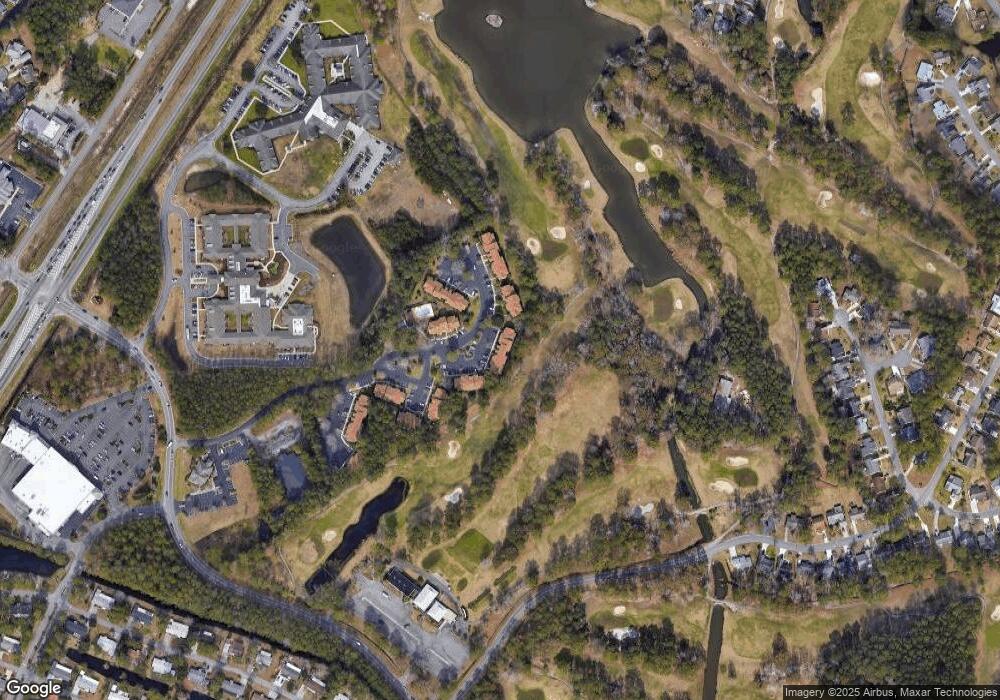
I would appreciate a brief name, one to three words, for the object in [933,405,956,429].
house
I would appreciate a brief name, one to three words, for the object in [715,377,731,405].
shed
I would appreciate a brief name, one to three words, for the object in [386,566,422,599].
barn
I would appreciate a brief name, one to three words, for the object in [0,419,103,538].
building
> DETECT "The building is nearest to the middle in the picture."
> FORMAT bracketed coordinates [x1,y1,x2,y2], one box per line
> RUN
[486,326,520,375]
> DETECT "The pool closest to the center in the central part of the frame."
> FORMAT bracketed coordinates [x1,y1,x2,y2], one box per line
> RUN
[412,304,435,321]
